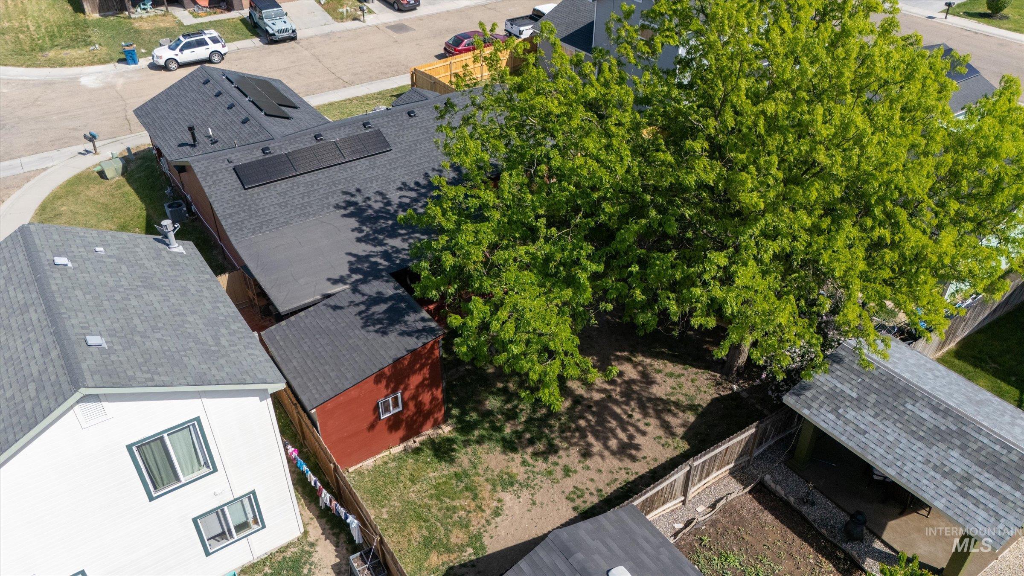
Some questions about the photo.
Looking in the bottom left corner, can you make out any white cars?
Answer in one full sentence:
No, no white car can be made out in the bottom left corner.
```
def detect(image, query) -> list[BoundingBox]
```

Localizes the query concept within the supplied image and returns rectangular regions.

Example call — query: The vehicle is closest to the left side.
[149,29,230,71]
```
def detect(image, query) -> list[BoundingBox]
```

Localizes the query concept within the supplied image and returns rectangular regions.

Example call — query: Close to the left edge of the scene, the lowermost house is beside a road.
[0,209,302,576]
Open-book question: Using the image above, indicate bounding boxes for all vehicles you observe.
[436,25,505,56]
[509,1,562,38]
[249,1,293,40]
[379,0,422,10]
[149,29,230,71]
